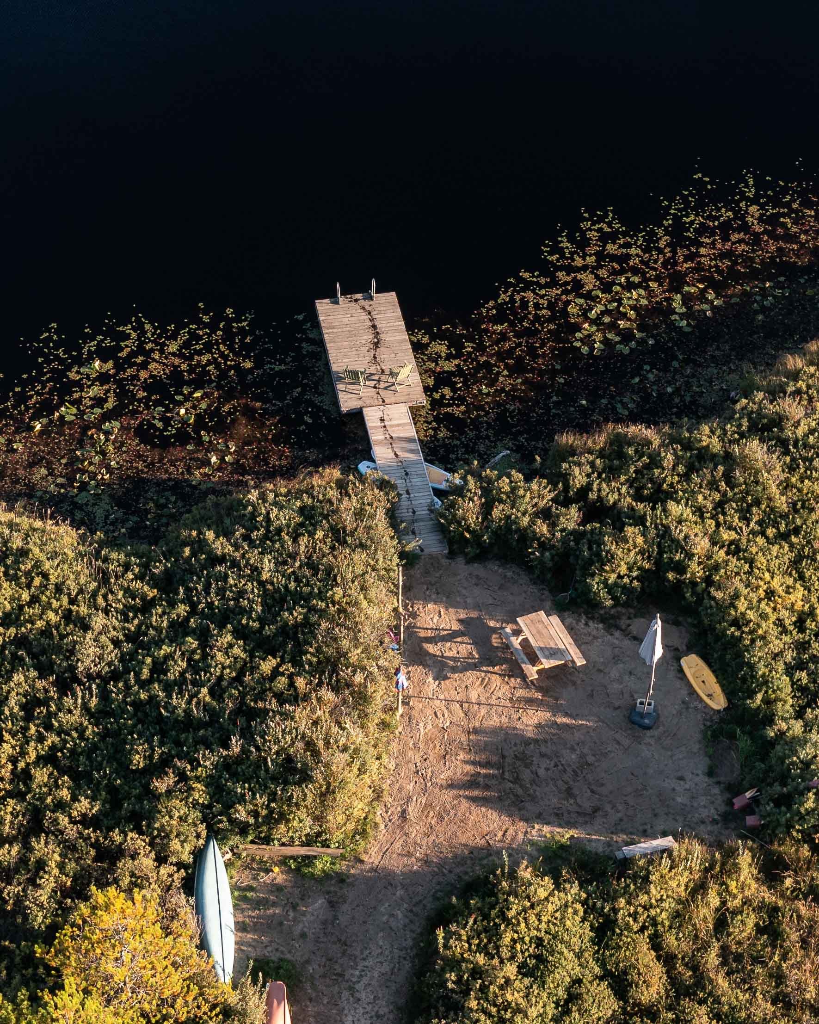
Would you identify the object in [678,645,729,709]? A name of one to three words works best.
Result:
boat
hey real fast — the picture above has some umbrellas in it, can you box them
[634,612,661,708]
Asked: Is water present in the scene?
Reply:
Yes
